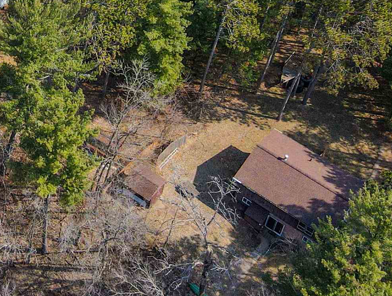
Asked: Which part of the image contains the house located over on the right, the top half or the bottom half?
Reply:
bottom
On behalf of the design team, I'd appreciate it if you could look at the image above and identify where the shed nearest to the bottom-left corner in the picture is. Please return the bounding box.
[118,160,167,211]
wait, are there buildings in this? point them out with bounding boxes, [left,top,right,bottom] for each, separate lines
[118,160,167,211]
[226,128,379,265]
